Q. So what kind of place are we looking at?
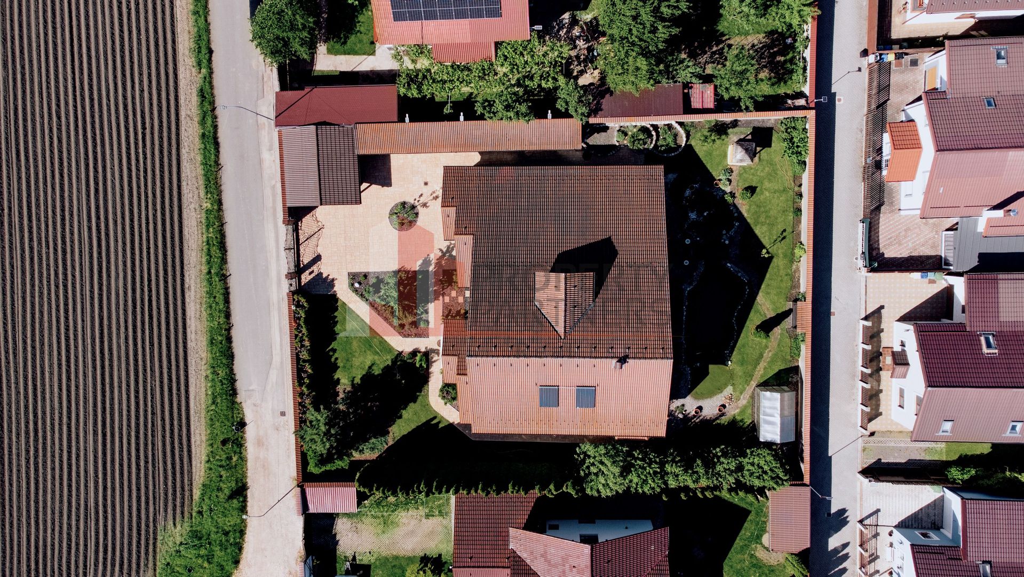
residential area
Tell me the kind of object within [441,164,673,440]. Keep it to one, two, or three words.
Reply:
house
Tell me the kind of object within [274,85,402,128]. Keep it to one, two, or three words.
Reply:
building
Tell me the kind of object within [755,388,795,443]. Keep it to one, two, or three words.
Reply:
greenhouse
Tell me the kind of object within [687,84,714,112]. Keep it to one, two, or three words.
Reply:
shed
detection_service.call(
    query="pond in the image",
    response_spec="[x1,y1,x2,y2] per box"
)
[674,195,749,395]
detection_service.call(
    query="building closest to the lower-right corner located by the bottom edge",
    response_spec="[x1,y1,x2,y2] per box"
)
[896,491,1024,577]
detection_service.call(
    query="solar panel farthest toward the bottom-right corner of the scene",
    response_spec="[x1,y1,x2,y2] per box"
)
[576,388,596,410]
